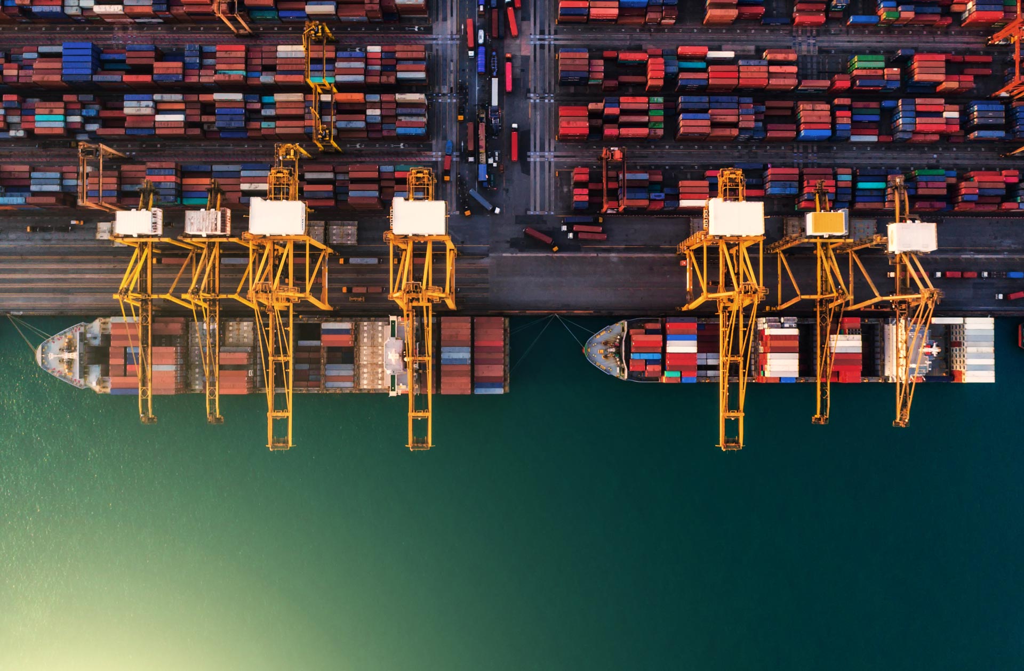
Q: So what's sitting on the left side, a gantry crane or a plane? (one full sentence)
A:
Visible on the left side is a gantry crane.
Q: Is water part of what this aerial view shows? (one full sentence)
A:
Yes, the picture does contain water.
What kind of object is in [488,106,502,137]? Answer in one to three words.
work vehicle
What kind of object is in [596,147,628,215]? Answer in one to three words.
container crane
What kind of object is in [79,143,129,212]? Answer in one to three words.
container crane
